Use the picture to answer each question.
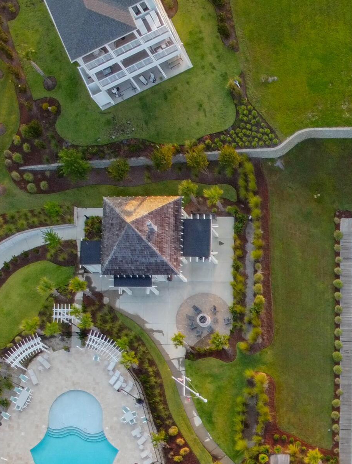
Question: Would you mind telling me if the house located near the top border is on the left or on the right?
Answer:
left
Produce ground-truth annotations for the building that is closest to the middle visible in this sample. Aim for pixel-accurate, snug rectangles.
[71,195,219,295]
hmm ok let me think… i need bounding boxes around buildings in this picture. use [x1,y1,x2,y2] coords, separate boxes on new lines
[41,0,196,111]
[71,195,219,295]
